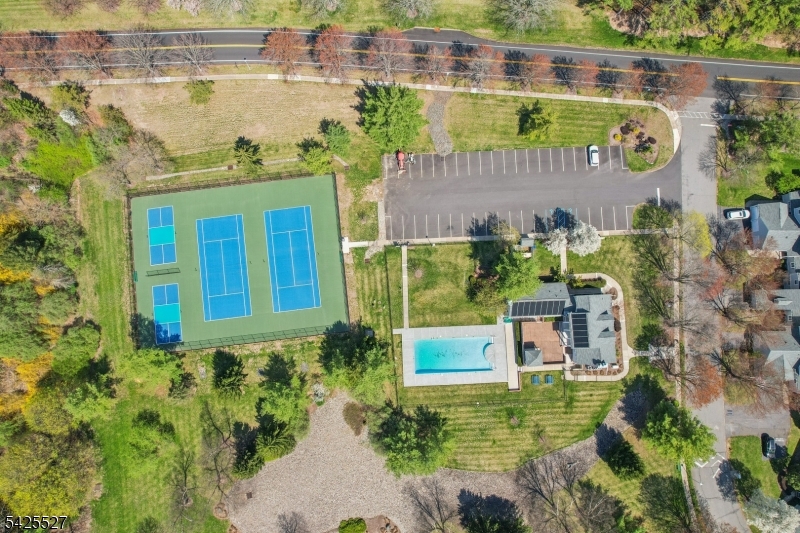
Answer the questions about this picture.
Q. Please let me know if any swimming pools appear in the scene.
Yes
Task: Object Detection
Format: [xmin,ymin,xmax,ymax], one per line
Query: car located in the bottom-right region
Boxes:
[762,436,777,458]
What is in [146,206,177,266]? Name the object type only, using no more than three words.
sports court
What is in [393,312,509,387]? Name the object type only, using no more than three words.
swimming pool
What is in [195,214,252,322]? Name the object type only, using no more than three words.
tennis court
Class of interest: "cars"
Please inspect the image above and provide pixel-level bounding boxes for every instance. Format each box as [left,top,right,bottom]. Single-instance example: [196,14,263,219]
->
[588,145,598,166]
[723,209,746,220]
[762,436,777,458]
